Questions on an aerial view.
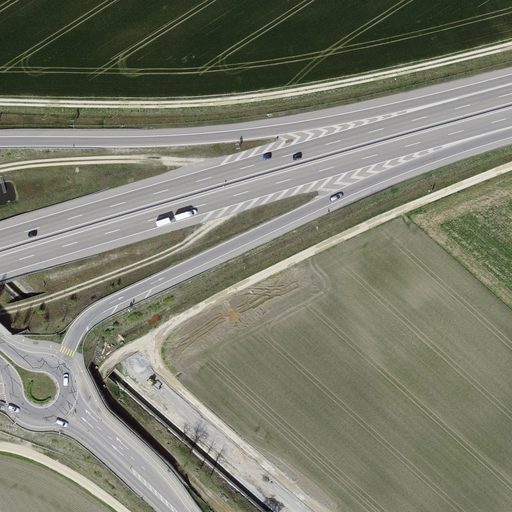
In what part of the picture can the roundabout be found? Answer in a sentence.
The roundabout sits in the bottom left section of the image.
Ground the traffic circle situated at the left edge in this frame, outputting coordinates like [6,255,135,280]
[0,323,200,512]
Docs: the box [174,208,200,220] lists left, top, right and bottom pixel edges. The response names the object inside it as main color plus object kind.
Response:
white vehicle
